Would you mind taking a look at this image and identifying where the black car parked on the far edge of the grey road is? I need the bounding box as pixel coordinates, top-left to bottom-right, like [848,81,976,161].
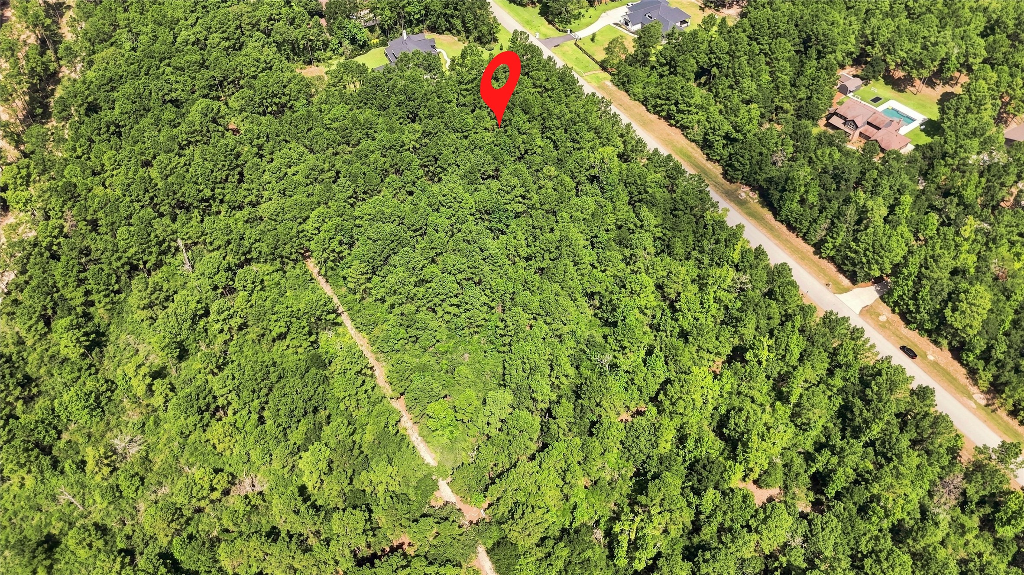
[900,344,920,361]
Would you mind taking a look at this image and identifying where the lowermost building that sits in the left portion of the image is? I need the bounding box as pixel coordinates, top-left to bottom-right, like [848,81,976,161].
[372,30,444,76]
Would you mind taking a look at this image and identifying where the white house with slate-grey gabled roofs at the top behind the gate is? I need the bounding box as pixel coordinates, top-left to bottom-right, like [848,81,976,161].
[621,0,692,37]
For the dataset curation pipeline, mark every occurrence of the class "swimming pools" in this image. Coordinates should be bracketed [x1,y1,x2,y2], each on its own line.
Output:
[848,94,928,131]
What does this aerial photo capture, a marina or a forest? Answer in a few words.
forest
